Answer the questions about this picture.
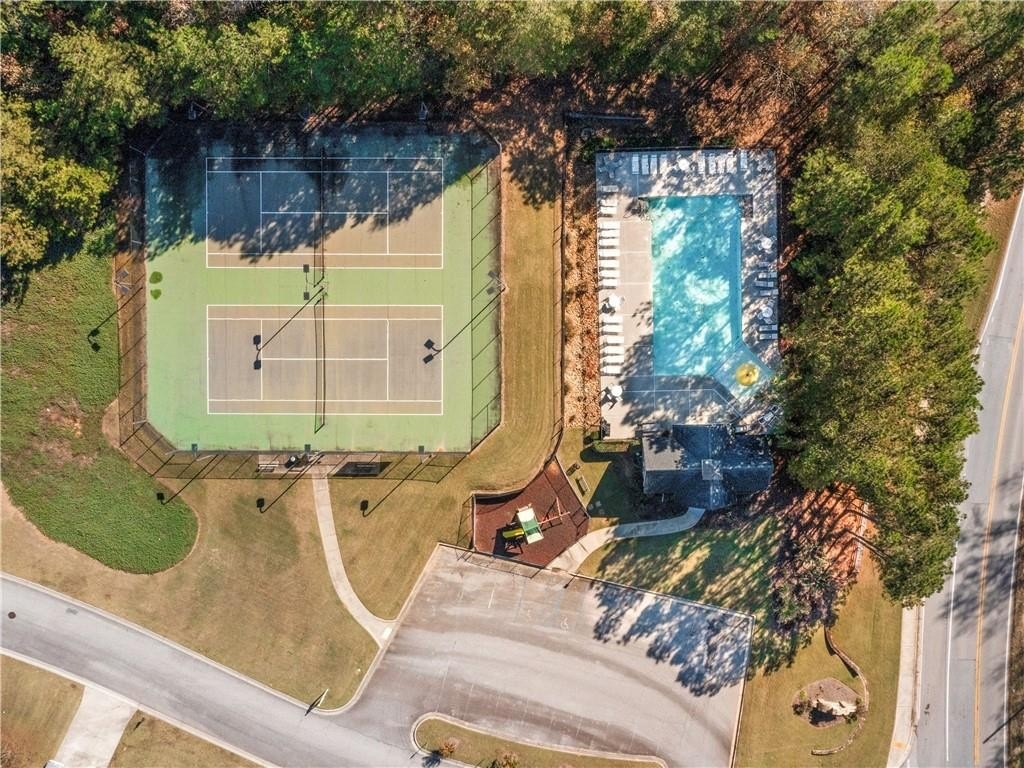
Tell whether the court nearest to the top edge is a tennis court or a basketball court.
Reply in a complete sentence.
It looks like the court nearest to the top edge is a tennis court.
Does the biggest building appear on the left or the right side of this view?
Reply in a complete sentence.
You can find the biggest building on the right side of the picture.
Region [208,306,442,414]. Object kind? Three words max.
tennis court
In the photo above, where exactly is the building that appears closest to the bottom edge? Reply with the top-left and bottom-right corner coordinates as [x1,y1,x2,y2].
[642,423,774,510]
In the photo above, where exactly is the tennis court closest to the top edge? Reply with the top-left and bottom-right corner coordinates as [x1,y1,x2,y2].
[207,158,442,266]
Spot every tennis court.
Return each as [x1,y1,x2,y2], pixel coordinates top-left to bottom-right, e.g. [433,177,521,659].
[208,306,442,414]
[207,158,442,266]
